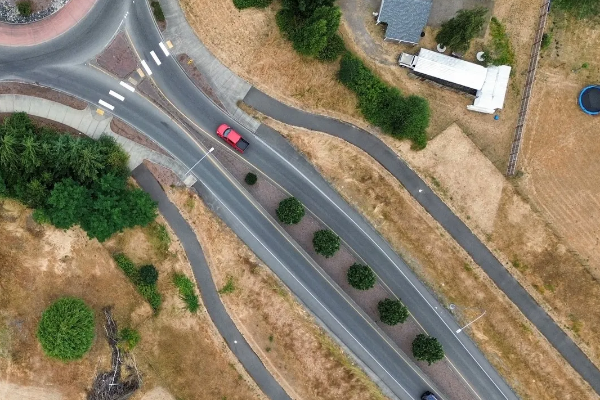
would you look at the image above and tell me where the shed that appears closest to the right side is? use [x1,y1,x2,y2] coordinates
[468,66,511,111]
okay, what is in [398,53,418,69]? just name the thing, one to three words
vehicle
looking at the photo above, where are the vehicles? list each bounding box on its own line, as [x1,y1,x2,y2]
[217,124,250,152]
[420,389,439,400]
[398,53,418,69]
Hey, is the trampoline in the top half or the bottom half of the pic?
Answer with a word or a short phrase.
top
